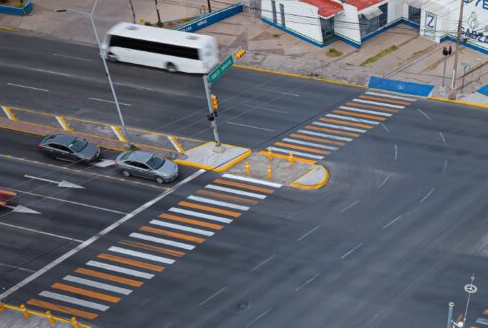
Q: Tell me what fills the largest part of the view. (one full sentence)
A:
For the most part, this view shows paved ground.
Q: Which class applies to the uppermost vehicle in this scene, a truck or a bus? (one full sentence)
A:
I'd say the uppermost vehicle is a bus.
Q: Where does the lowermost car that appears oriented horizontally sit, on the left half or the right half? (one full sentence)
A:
The lowermost car that appears oriented horizontally sits on the left side.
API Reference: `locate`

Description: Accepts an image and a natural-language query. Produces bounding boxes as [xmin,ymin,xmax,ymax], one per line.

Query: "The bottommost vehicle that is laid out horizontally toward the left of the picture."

[115,151,179,183]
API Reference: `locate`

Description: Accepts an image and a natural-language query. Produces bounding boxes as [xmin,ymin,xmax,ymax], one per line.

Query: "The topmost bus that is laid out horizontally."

[94,19,213,73]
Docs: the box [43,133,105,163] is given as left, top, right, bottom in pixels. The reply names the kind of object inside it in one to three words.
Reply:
car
